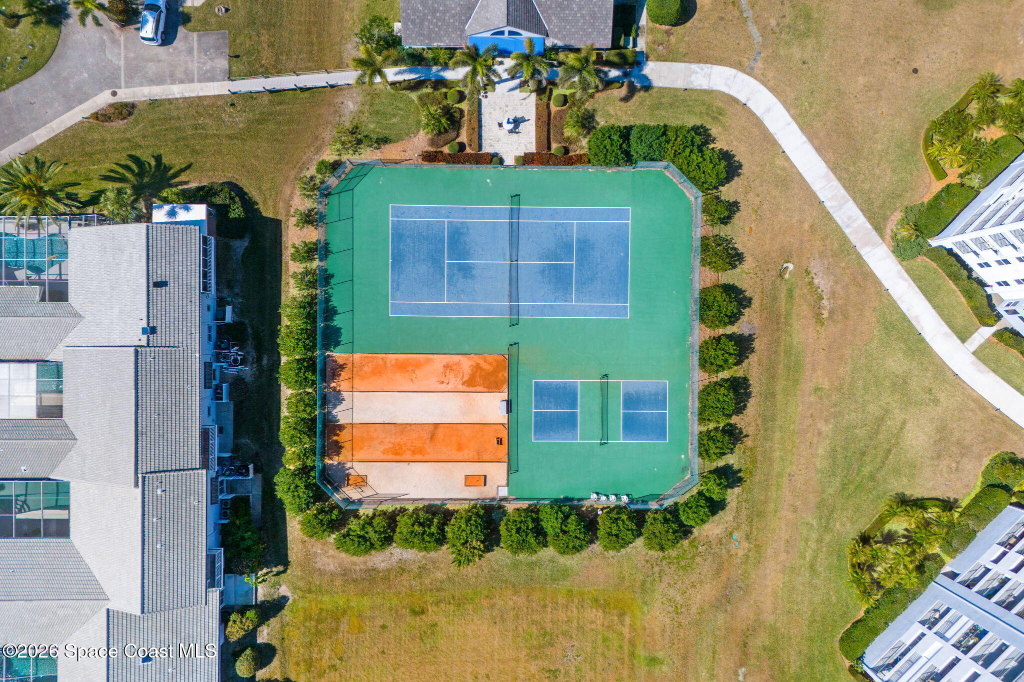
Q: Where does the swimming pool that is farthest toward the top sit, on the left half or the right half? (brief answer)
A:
left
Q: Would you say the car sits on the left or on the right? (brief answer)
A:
left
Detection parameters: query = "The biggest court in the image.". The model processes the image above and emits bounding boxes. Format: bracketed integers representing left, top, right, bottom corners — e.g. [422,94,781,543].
[326,168,692,500]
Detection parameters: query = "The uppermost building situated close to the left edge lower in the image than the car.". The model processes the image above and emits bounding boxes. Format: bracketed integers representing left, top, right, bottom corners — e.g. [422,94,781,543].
[0,204,216,361]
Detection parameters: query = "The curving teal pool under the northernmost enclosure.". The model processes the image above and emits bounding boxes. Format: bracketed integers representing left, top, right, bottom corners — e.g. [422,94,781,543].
[0,234,68,280]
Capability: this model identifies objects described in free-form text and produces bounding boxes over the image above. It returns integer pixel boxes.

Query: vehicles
[140,0,168,45]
